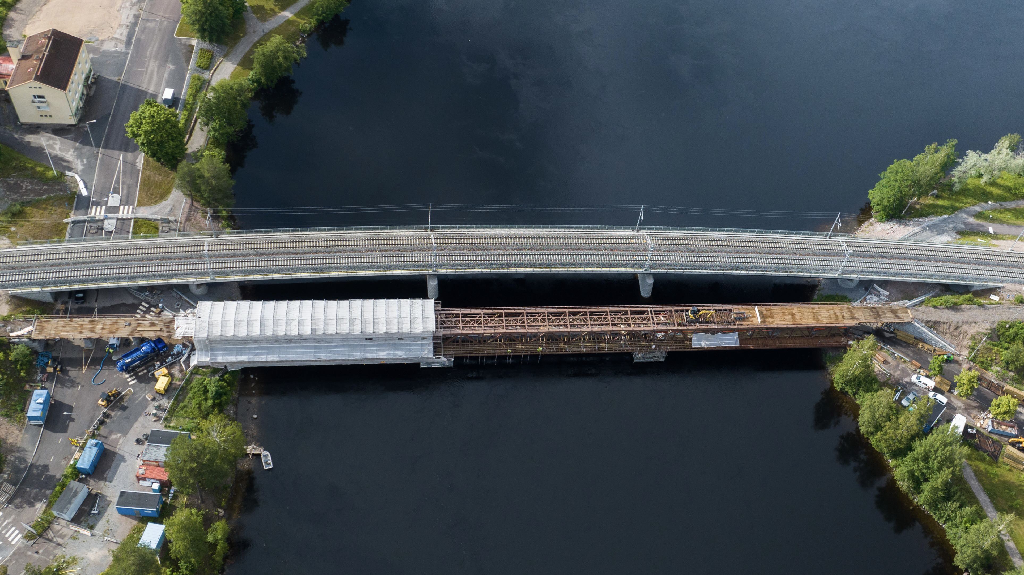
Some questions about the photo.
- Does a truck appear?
Yes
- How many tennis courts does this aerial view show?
0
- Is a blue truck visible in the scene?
Yes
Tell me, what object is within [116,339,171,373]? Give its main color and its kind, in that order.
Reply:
blue truck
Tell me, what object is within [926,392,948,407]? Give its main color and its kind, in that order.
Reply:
white car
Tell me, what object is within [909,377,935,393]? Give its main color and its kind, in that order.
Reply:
white vehicle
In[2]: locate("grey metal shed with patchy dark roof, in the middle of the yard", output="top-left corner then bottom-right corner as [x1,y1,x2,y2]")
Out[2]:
[51,479,88,521]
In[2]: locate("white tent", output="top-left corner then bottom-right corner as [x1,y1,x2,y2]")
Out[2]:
[194,297,435,369]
